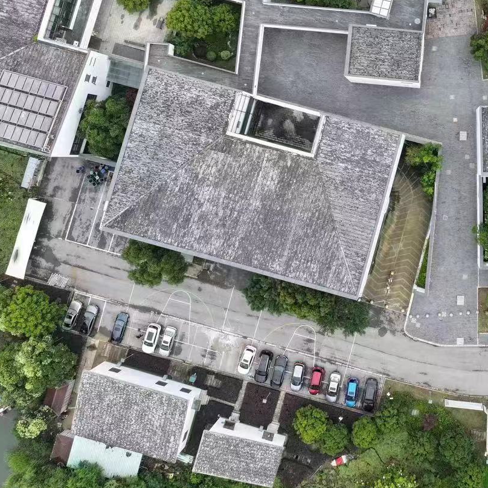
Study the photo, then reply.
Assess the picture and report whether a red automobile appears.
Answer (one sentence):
Yes, a red automobile is visible in the scene.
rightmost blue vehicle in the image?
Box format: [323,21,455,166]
[344,376,360,407]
